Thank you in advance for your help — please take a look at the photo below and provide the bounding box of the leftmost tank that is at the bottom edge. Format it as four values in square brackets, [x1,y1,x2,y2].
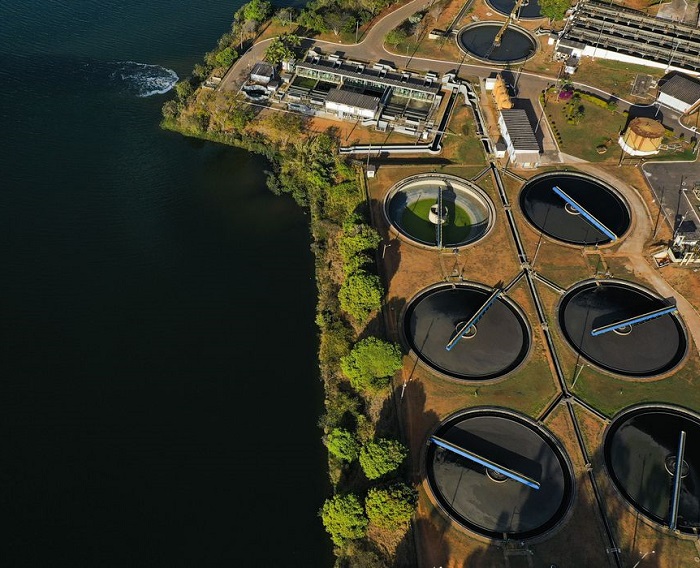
[418,403,578,550]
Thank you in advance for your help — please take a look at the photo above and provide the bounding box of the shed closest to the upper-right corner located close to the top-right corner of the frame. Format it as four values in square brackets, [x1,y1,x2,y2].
[657,70,700,116]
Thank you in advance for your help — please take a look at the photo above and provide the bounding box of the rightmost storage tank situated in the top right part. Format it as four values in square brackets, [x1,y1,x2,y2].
[623,112,670,151]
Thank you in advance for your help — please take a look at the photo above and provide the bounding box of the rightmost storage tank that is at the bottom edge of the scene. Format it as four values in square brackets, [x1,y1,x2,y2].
[597,398,700,541]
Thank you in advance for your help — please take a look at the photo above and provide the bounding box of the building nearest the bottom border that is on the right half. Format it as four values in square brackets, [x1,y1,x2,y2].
[669,231,700,264]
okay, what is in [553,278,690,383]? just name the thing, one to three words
storage tank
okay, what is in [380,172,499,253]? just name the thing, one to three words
storage tank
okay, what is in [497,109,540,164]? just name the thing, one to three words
building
